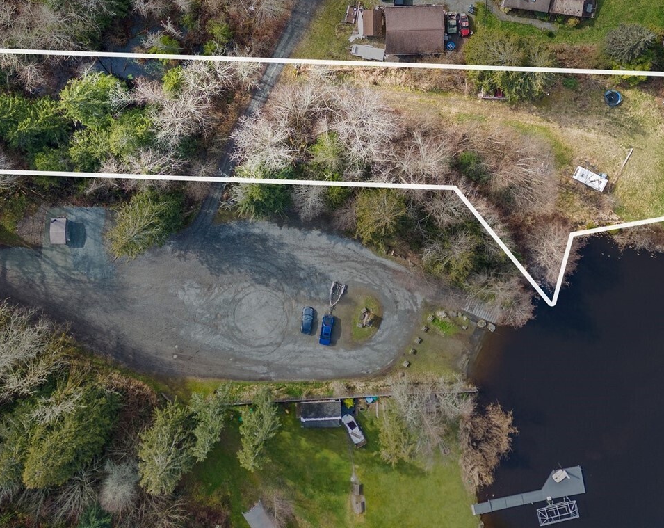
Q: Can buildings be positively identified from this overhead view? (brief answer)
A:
Yes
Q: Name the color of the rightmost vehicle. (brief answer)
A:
white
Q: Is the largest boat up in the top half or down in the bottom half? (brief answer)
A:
bottom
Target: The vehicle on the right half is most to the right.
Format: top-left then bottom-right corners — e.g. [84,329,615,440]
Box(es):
[569,166,606,192]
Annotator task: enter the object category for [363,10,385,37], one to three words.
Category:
shed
